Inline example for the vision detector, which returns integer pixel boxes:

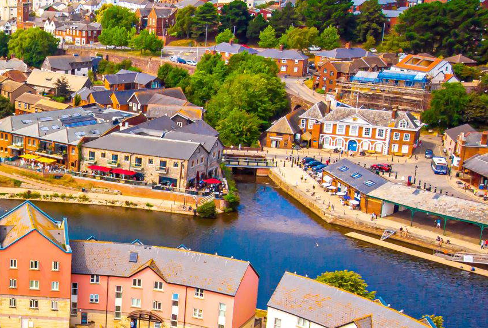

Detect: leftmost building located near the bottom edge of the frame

[0,197,75,328]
